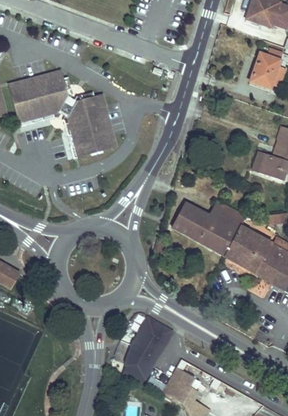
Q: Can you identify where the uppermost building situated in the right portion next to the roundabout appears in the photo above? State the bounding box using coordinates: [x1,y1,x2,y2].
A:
[172,198,244,256]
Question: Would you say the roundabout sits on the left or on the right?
left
